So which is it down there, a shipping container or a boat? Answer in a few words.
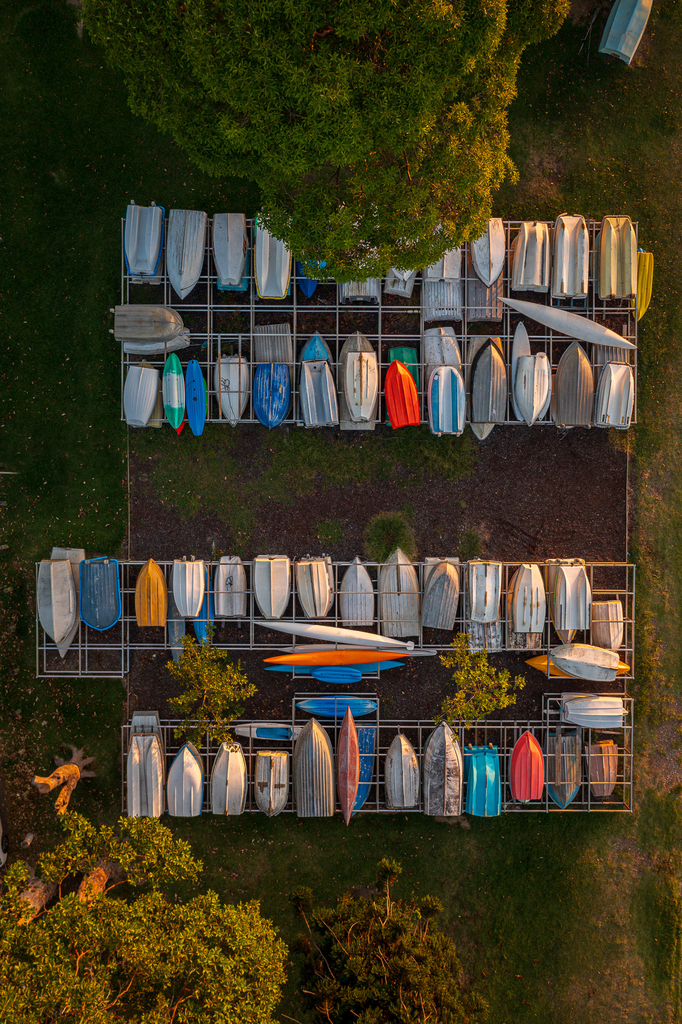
boat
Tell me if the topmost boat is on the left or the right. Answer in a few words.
right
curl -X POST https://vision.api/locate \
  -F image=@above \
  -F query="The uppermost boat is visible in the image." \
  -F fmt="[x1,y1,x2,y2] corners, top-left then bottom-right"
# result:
[599,0,650,63]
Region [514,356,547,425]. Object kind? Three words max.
boat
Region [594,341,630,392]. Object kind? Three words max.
boat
